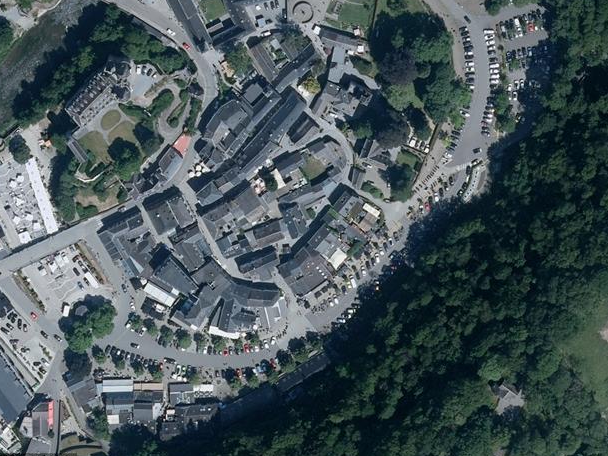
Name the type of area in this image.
residential area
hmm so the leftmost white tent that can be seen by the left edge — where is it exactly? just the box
[26,159,58,234]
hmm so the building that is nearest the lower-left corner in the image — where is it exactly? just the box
[0,429,21,456]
